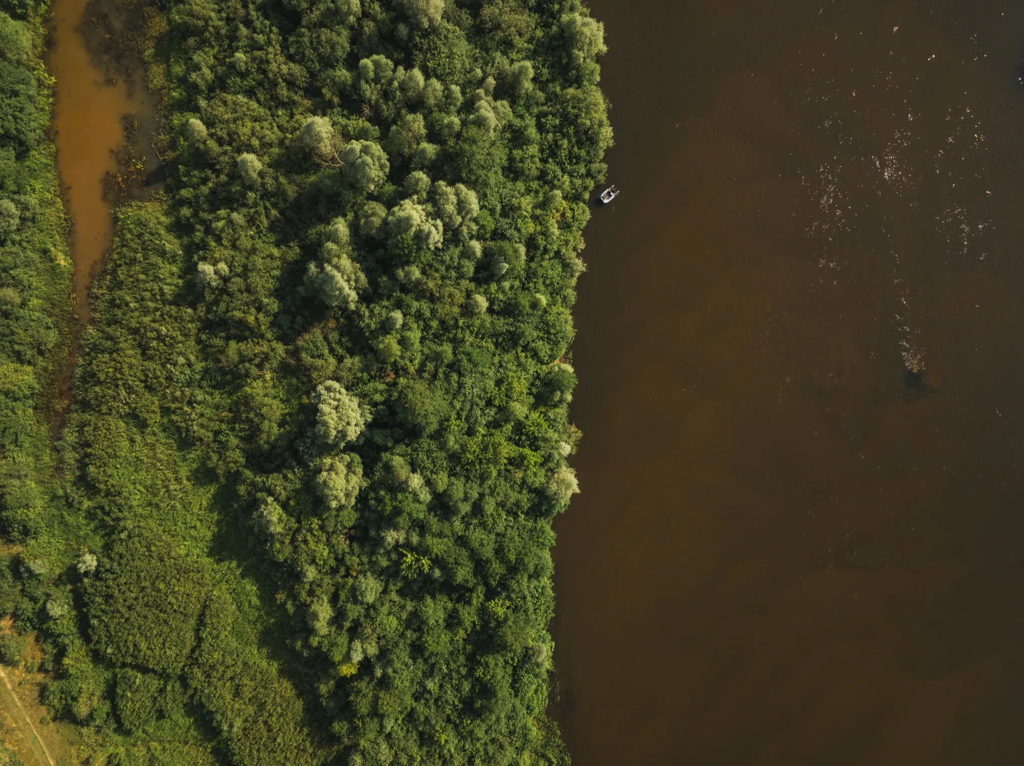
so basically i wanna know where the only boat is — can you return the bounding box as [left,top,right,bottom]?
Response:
[599,183,620,202]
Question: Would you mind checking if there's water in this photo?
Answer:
Yes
